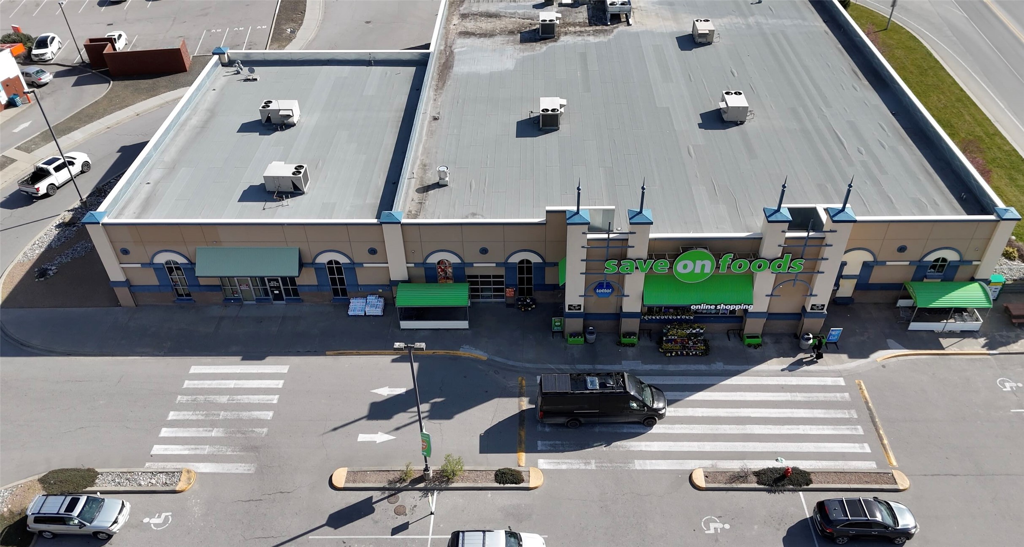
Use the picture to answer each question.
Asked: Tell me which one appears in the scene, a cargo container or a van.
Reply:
van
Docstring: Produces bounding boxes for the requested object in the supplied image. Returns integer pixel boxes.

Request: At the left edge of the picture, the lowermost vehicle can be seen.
[19,492,128,540]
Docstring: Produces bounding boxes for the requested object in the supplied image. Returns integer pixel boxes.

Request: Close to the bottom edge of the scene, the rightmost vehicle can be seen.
[816,493,925,544]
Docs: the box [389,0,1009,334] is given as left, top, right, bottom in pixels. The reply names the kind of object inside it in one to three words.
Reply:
building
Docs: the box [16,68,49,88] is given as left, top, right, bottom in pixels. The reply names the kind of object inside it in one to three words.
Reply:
car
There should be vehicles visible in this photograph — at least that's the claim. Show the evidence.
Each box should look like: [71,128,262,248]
[450,530,548,547]
[538,373,667,427]
[19,492,128,540]
[16,68,49,88]
[33,32,62,56]
[108,29,130,51]
[816,493,925,544]
[15,153,87,198]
